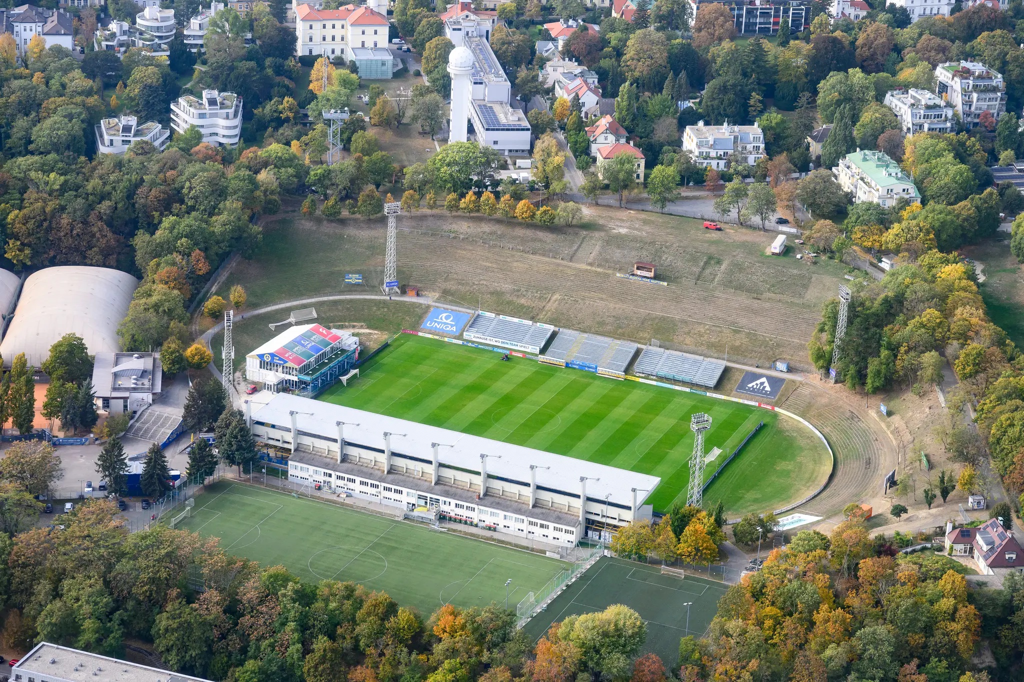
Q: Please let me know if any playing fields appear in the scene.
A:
Yes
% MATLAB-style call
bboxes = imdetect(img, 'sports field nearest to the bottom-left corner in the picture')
[159,480,580,664]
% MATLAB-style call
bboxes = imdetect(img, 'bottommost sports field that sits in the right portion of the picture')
[529,553,747,682]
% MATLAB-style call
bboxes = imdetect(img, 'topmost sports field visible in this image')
[308,333,836,522]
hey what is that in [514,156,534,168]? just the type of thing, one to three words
vehicle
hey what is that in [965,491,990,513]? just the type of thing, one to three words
shed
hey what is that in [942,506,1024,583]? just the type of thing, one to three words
house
